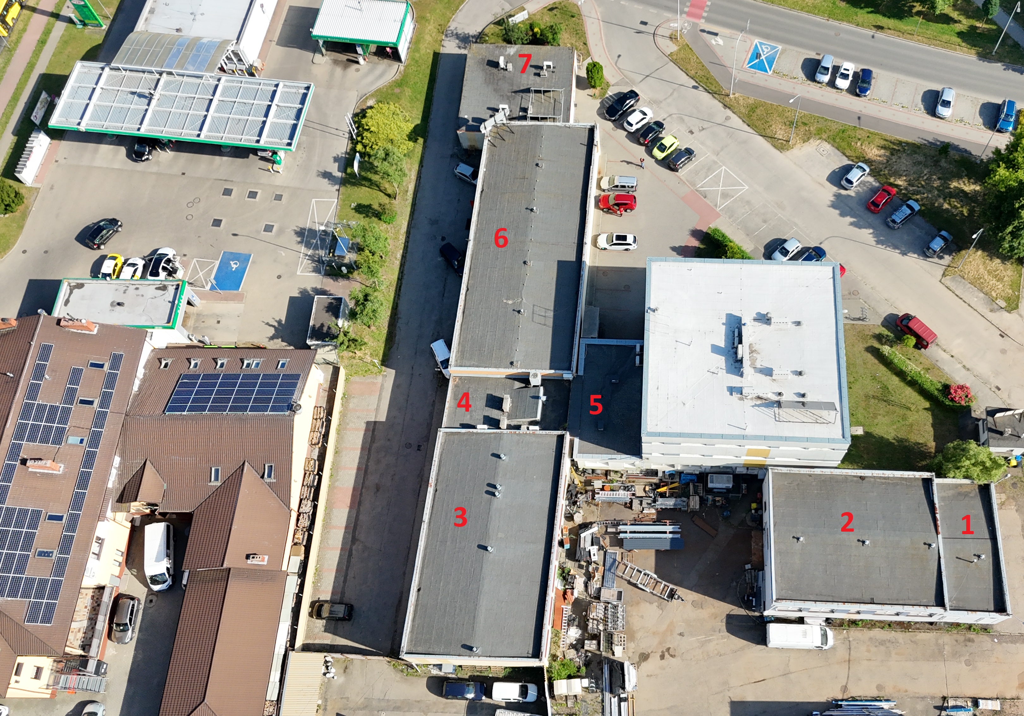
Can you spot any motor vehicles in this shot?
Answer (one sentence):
Yes, there's a motor vehicle here.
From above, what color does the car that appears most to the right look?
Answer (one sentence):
From above, the car that appears most to the right appears blue.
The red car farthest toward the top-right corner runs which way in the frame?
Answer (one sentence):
The red car farthest toward the top-right corner has been laid out diagonally relative to the frame.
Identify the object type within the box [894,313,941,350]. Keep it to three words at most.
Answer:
van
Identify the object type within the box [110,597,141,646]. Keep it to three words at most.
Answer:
car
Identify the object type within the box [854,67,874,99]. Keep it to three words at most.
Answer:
car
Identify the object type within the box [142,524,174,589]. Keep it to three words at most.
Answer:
van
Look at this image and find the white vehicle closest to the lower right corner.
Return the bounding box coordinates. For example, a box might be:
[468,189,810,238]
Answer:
[768,624,832,651]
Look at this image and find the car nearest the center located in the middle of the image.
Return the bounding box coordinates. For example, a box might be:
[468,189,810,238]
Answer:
[428,338,452,380]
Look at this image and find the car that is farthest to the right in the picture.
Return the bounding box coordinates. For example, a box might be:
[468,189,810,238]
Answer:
[995,98,1018,133]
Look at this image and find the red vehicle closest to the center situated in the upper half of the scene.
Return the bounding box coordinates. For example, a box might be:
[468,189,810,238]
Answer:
[598,193,637,214]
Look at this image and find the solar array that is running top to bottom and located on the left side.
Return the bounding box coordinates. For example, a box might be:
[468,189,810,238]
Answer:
[0,343,117,624]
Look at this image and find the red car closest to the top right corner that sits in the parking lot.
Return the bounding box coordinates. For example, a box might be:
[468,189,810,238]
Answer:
[863,184,899,216]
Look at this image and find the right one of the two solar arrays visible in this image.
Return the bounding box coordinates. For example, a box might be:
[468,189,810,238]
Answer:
[164,372,301,412]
